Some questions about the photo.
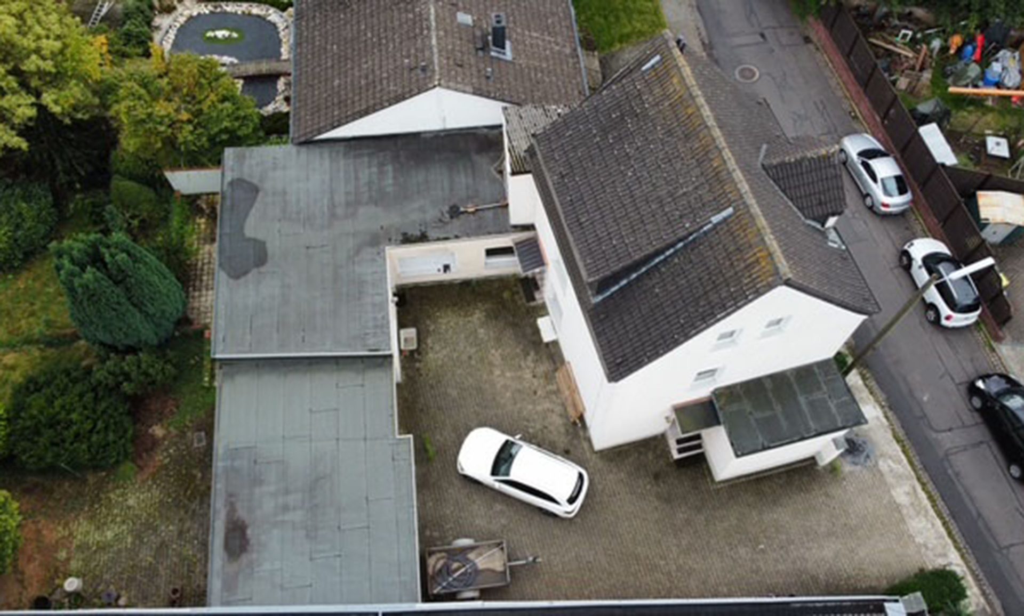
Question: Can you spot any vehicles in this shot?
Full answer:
Yes, I can see a vehicle in this picture.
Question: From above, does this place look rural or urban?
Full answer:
The area shown here is urban.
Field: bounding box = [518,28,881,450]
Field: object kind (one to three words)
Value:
house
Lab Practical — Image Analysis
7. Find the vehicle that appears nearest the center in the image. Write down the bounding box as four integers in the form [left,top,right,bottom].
[461,437,587,518]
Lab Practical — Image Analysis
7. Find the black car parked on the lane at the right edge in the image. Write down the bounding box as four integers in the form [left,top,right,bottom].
[972,371,1024,484]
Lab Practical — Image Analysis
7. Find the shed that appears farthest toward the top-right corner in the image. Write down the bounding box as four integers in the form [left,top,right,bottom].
[970,191,1024,248]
